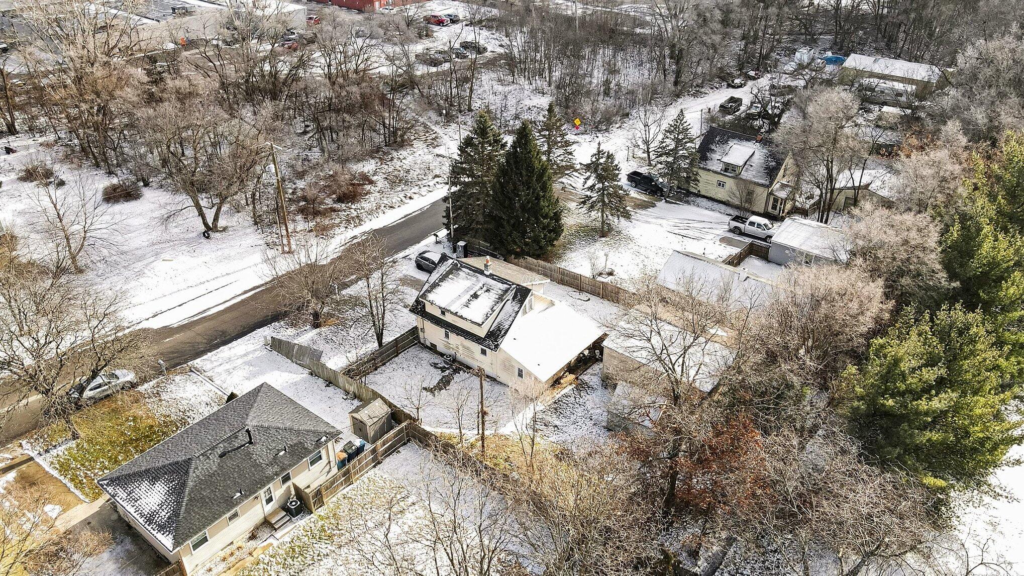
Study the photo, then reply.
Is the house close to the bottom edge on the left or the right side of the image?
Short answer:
left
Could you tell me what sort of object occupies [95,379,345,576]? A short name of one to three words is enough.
house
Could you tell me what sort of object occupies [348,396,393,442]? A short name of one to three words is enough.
shed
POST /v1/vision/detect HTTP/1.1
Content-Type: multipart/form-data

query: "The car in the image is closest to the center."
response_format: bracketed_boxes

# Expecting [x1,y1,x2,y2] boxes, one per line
[411,245,443,270]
